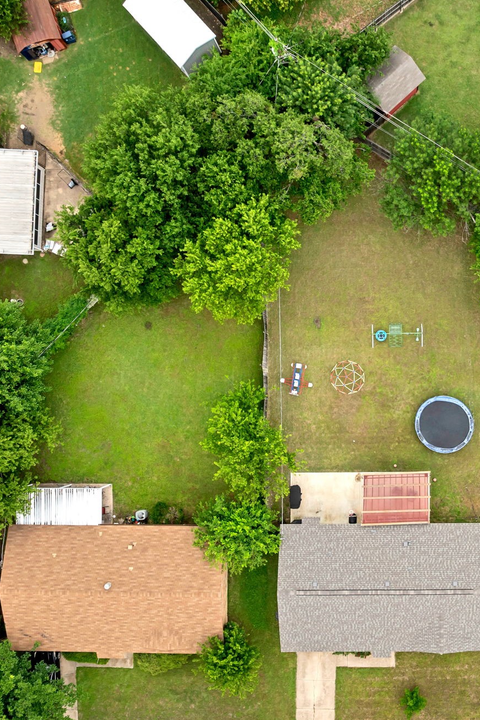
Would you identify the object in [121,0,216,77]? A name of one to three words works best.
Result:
shed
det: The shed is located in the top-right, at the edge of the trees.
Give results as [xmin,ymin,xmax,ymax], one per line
[361,45,426,120]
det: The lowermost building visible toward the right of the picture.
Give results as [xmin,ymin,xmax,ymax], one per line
[275,517,480,657]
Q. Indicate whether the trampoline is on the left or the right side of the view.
right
